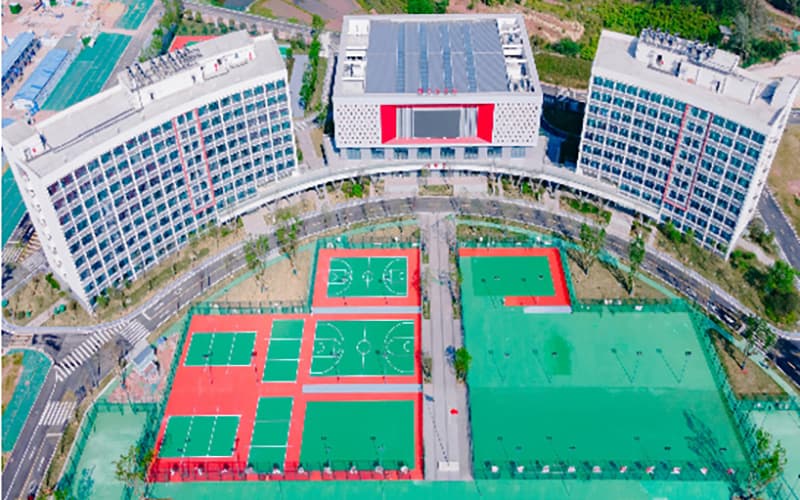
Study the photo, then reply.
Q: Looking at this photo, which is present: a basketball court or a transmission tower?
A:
basketball court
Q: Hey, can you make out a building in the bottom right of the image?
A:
No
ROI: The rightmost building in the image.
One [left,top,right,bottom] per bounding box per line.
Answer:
[573,25,800,254]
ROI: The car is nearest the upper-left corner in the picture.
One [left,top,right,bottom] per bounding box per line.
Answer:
[20,227,36,241]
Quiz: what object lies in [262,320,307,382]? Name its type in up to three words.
sports court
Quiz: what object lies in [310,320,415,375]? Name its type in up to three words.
basketball court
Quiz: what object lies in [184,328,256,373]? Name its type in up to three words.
sports court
